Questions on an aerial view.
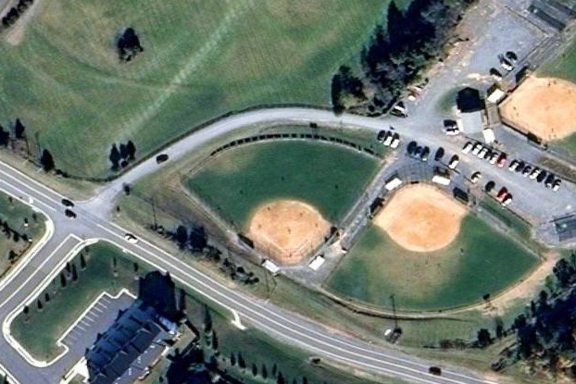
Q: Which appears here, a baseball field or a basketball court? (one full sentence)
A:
Visible in the photo is a baseball field.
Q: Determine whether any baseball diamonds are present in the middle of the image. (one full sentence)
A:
Yes, a baseball diamond appears in the middle of the image.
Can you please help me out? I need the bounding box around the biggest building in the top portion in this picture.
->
[457,112,483,133]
